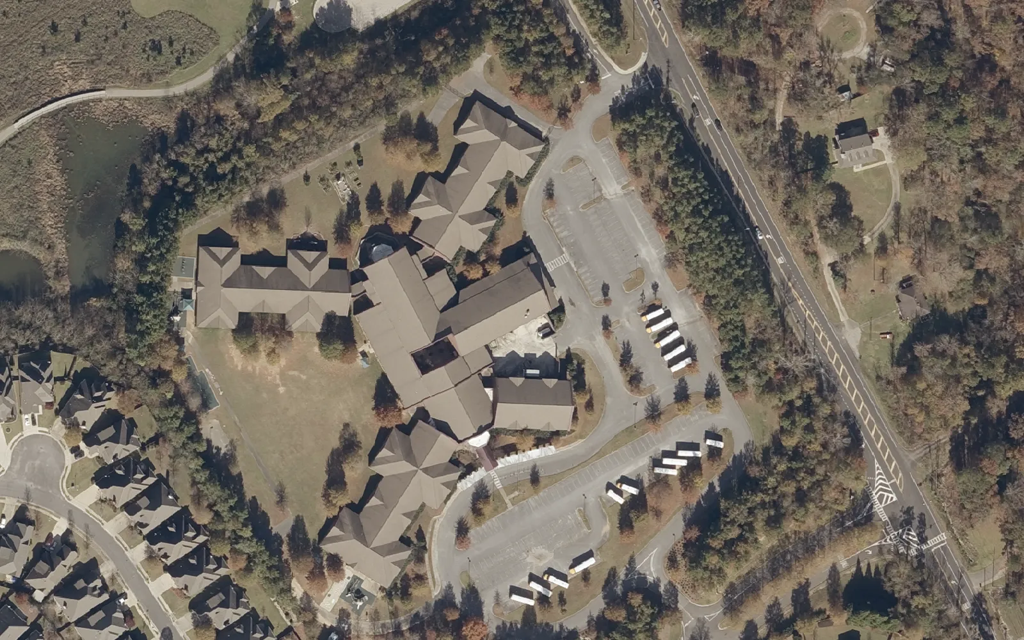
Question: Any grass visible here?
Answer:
Yes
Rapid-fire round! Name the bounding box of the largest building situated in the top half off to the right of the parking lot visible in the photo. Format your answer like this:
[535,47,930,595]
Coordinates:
[836,129,878,170]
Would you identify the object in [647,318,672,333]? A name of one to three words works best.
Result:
vehicle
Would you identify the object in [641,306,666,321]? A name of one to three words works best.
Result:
vehicle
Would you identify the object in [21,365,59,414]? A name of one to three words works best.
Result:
house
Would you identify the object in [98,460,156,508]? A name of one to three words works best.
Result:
house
